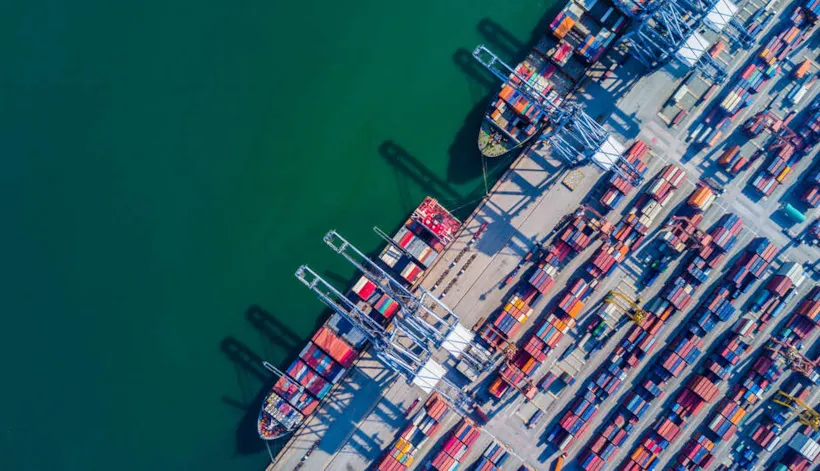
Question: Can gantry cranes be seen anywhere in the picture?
Yes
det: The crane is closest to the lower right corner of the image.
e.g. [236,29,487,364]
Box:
[757,383,820,431]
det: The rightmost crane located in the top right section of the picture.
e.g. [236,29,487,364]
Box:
[740,107,796,147]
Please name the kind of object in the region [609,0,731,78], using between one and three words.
container crane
